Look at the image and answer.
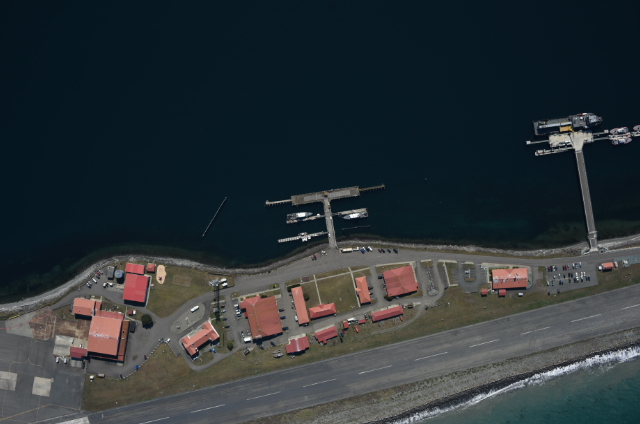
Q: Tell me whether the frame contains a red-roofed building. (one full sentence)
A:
Yes, a red-roofed building can be made out from above.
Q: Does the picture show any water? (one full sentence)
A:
Yes, some water is visible.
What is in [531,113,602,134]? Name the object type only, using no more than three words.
ship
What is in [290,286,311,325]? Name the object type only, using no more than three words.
building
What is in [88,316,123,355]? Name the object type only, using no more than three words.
hangar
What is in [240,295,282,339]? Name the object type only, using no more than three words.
building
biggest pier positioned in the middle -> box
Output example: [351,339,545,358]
[265,184,386,250]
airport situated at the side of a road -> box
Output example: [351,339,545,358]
[0,284,640,424]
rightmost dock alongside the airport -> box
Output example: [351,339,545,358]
[526,129,610,251]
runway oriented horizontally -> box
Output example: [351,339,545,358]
[41,284,640,424]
